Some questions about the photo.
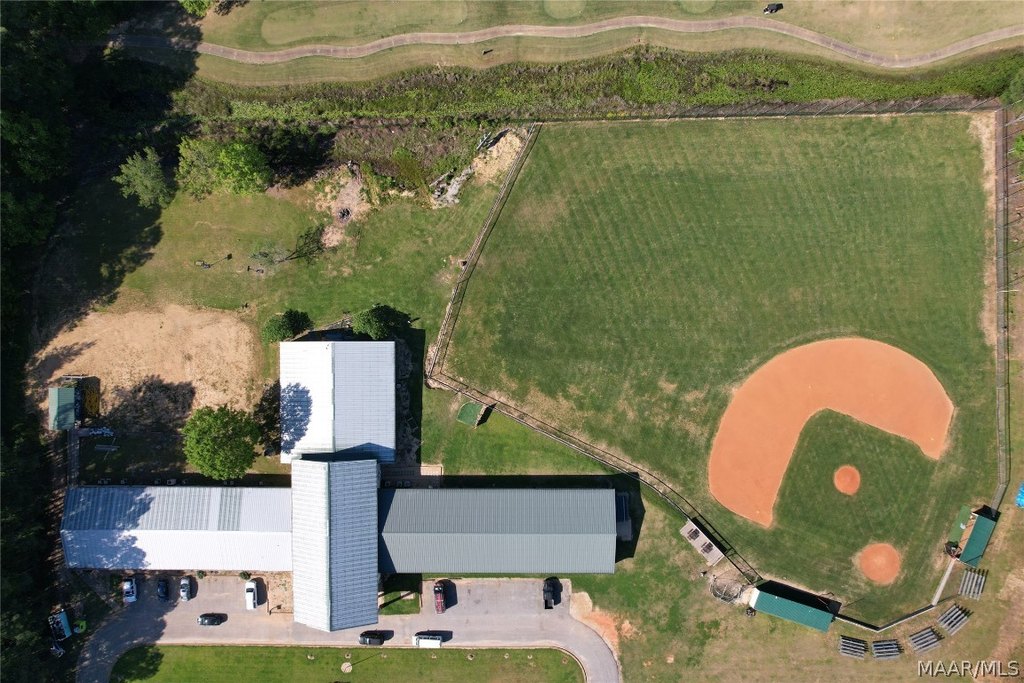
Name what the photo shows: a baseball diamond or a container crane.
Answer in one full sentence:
Looking from above, you can make out a baseball diamond.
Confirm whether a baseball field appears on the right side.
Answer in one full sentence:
Yes, you'll find a baseball field on the right side.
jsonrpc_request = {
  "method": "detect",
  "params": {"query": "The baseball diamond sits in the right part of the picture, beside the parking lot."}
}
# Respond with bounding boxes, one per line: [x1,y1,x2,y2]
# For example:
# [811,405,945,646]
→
[431,112,998,628]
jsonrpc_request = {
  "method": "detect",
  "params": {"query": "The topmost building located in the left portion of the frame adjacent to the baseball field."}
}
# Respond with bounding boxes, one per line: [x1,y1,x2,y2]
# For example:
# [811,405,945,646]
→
[279,341,397,463]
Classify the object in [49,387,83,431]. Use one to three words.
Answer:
shed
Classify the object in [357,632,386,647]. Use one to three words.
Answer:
car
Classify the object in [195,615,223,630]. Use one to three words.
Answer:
car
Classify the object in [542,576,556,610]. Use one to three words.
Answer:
vehicle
